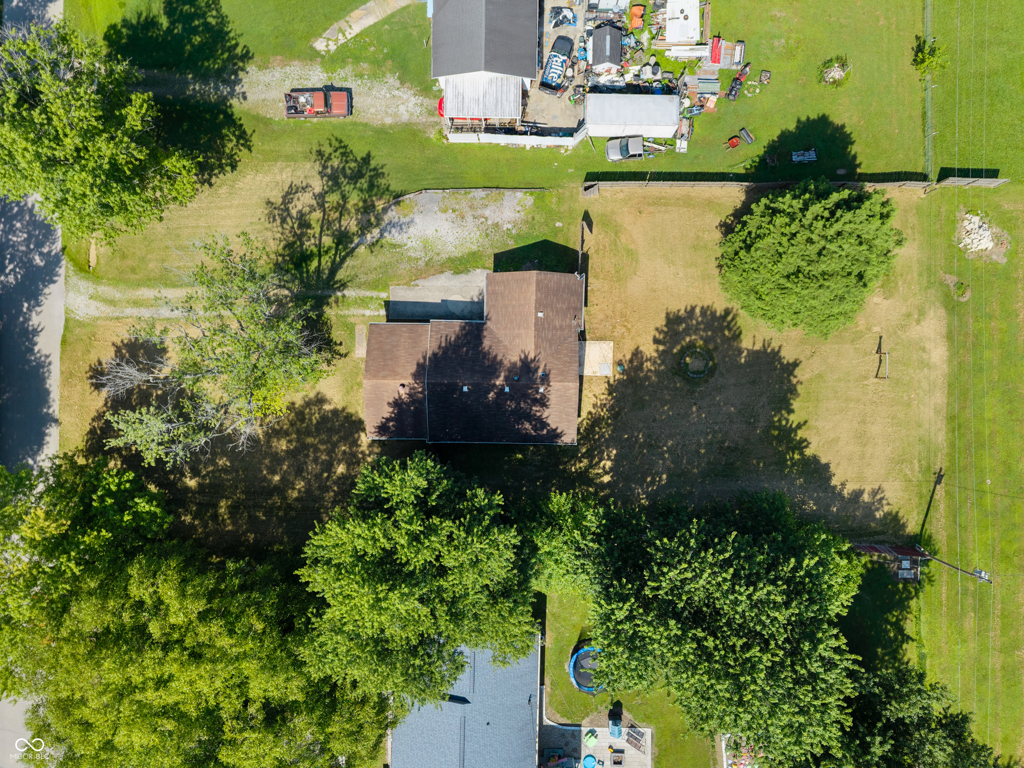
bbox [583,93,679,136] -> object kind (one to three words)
trailer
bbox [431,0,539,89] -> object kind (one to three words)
house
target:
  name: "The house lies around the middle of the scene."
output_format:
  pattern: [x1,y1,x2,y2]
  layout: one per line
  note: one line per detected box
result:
[364,270,586,446]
